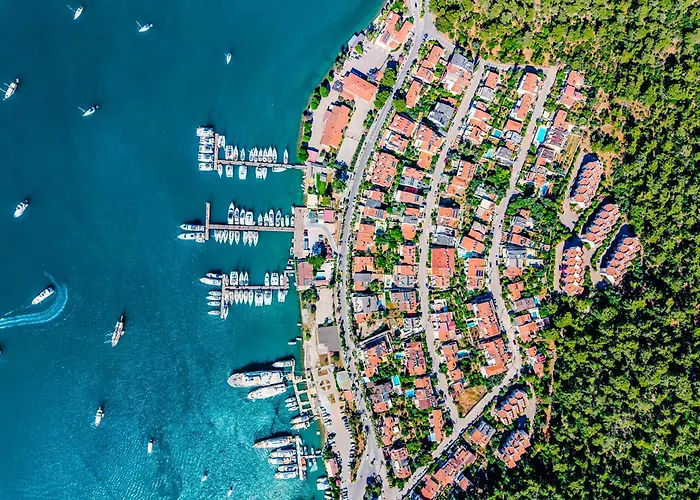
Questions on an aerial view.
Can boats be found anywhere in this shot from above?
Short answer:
Yes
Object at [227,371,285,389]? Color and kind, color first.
white ship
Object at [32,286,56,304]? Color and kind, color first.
white boat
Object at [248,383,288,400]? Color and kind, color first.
white ship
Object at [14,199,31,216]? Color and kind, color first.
white boat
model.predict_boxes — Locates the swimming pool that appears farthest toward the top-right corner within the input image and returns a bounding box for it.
[535,125,549,144]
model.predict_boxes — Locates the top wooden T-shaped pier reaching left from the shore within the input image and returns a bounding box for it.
[213,133,306,170]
